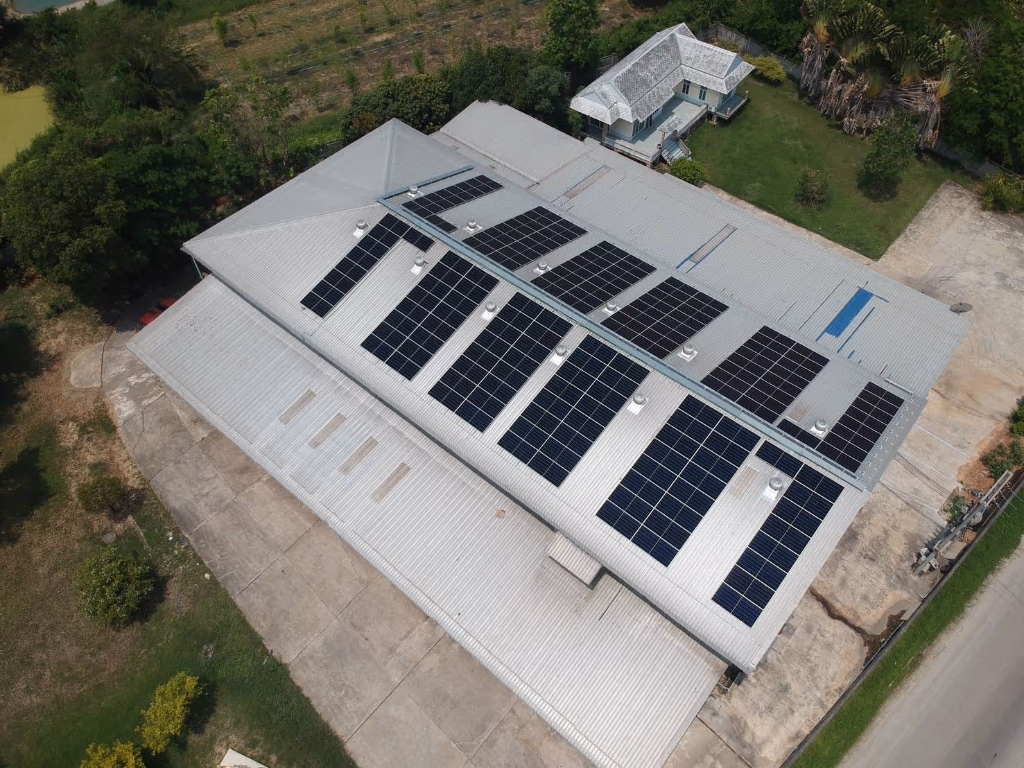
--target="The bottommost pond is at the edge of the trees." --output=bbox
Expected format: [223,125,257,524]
[0,85,52,162]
